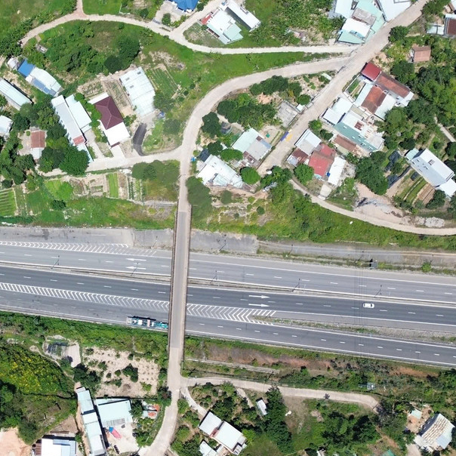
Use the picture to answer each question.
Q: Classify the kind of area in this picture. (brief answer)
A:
residential area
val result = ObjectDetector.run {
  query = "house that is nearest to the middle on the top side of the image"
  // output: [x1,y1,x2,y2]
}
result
[200,156,243,190]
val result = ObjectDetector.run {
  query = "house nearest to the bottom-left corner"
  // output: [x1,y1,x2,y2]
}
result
[33,438,74,456]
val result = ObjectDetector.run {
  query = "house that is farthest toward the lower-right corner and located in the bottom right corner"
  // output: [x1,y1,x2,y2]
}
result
[414,414,454,452]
